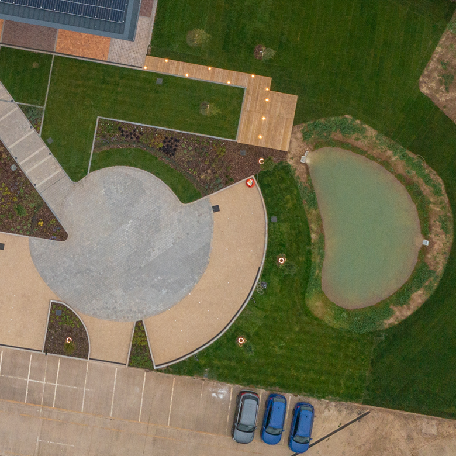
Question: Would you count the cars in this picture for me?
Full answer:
My tally gives 3 cars in this view.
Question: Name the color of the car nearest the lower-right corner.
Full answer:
The color of the car nearest the lower-right corner is blue.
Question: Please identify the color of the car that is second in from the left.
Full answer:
The car that is second in from the left looks blue in the image.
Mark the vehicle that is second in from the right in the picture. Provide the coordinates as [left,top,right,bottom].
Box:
[258,392,287,445]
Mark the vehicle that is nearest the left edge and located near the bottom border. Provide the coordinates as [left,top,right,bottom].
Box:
[231,389,261,443]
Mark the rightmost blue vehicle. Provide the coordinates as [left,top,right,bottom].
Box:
[286,400,314,453]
